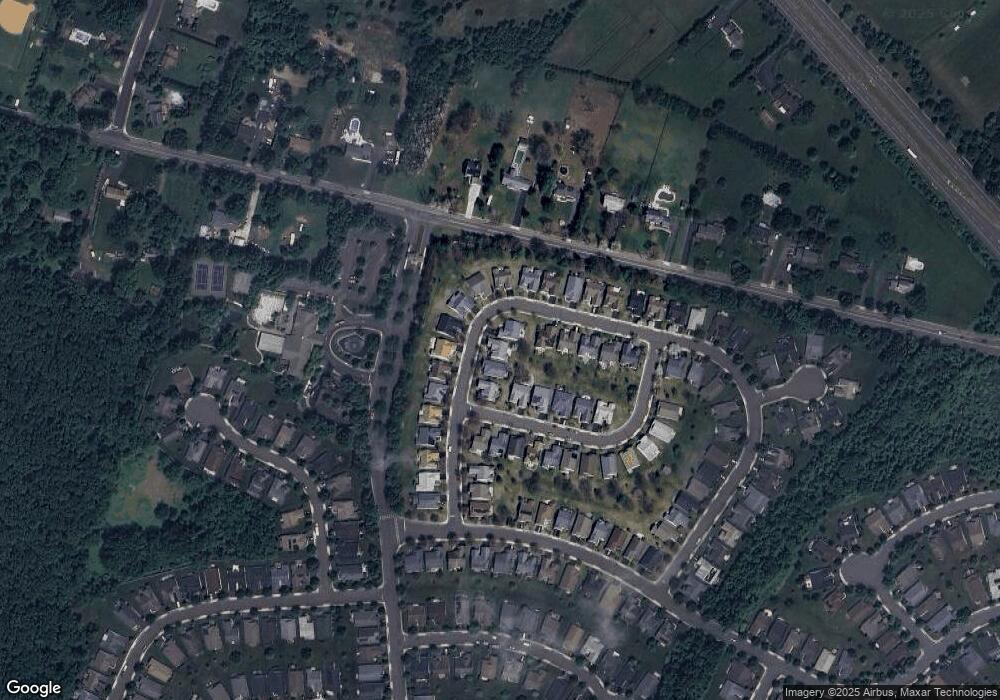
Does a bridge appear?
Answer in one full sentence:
No, there isn't any bridge down there.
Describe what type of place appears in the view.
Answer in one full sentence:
What you see here is a residential area.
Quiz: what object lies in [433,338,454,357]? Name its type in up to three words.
house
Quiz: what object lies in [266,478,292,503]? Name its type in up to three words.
house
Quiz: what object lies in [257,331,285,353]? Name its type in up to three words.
building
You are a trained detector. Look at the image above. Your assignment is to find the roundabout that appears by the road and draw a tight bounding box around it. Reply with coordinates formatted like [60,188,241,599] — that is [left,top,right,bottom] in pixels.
[322,319,389,379]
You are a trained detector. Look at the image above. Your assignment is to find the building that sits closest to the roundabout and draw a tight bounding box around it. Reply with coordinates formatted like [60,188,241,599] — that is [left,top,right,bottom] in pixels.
[281,308,326,377]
